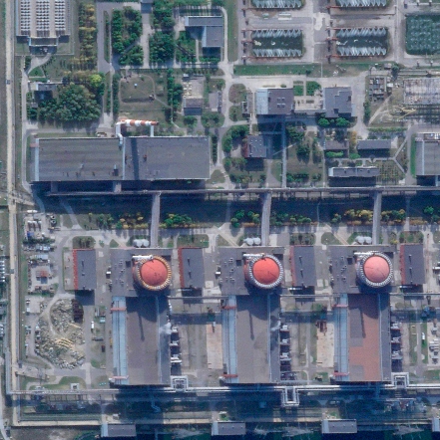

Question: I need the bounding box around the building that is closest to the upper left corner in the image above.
[14,0,73,46]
